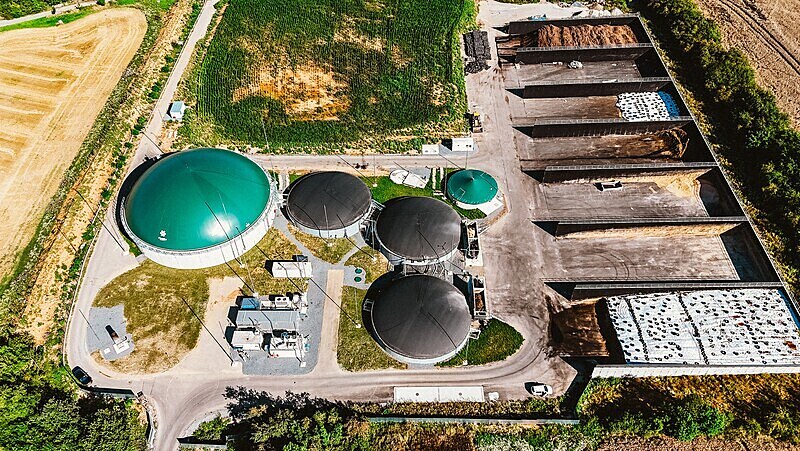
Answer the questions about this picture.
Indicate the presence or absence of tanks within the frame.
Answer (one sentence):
Yes, this view includes a tank.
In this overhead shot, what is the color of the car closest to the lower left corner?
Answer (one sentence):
In this view, the car closest to the lower left corner is black.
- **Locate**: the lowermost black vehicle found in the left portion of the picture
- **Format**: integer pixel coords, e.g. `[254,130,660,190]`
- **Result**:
[69,367,89,387]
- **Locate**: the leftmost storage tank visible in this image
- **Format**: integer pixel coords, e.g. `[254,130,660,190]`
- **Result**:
[120,143,277,268]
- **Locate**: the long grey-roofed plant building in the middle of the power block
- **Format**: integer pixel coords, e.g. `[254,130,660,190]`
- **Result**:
[232,309,300,334]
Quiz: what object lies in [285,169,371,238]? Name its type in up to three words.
storage tank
